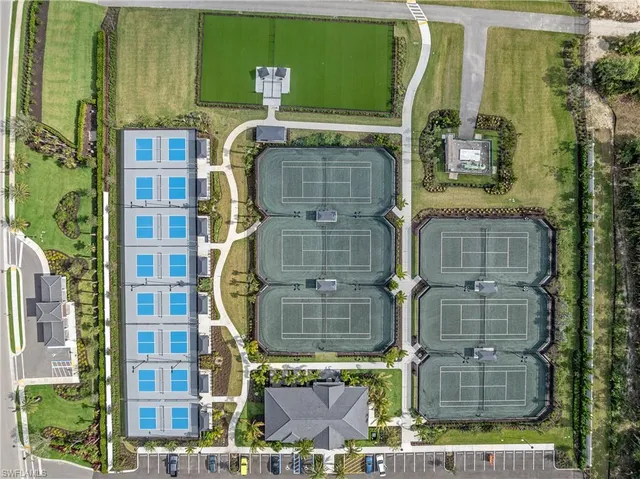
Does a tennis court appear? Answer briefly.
Yes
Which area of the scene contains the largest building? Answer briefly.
bottom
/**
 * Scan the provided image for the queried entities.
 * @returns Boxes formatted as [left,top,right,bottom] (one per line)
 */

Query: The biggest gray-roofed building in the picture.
[264,378,369,454]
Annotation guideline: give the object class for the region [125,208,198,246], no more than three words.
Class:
sports court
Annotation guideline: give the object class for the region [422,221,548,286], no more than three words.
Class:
tennis court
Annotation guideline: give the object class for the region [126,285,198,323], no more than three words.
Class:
sports court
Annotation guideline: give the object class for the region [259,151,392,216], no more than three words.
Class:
tennis court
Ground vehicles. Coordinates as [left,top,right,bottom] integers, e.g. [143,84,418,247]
[239,456,248,476]
[376,455,385,476]
[169,455,178,478]
[208,455,216,474]
[271,456,279,475]
[366,456,374,475]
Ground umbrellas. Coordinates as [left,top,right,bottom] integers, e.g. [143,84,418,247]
[276,68,286,84]
[258,67,269,84]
